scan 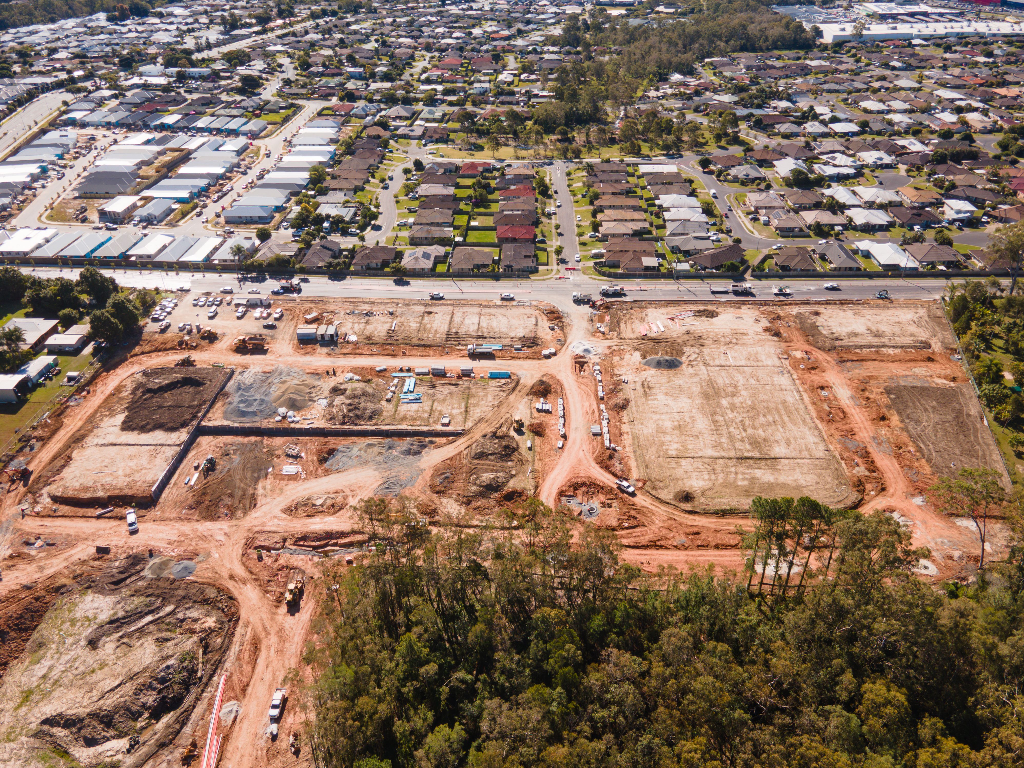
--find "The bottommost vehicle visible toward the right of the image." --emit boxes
[613,477,637,493]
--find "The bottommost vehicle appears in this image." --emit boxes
[266,687,289,719]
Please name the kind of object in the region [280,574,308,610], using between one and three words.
work vehicle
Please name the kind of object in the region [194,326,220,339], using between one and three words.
vehicle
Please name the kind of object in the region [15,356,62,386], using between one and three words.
shed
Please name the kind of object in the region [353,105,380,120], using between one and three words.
house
